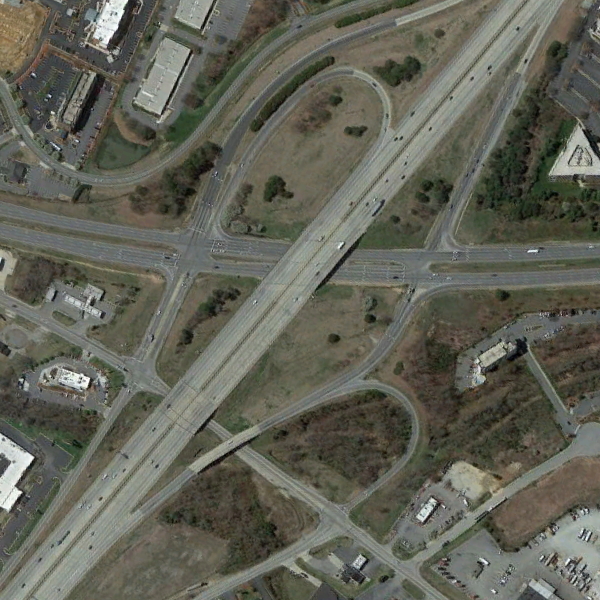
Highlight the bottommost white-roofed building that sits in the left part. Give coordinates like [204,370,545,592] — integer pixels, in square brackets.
[0,433,36,514]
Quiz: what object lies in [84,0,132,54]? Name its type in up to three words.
building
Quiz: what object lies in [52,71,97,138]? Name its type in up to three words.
building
